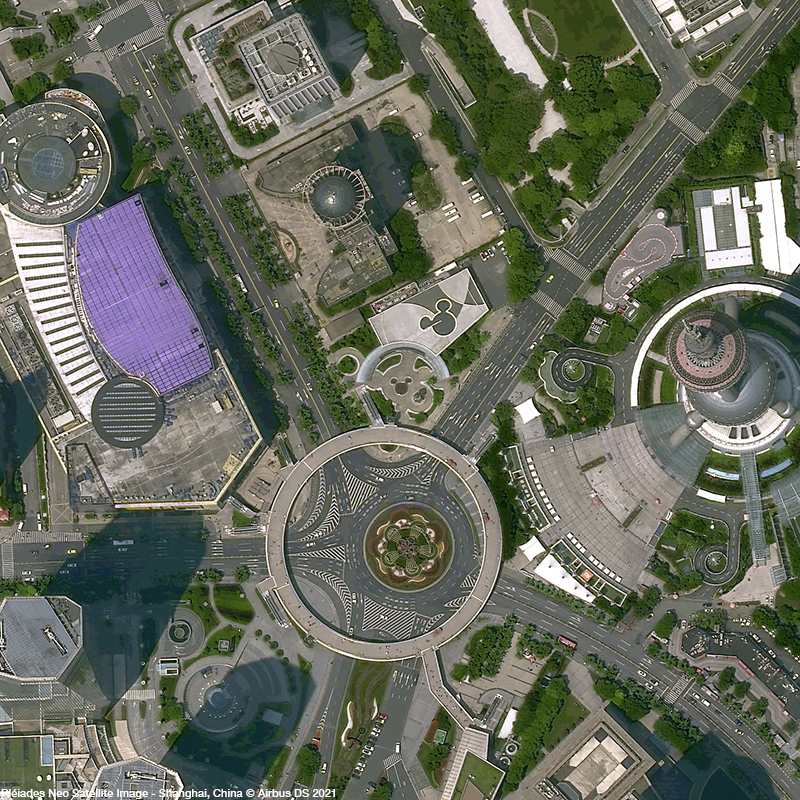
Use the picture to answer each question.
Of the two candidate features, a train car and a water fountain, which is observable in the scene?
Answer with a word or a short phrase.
water fountain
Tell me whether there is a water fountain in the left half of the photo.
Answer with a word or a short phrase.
Yes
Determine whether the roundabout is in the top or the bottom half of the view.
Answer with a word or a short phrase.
bottom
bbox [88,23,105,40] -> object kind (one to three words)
vehicle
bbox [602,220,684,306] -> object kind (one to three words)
race track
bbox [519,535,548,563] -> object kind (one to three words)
tent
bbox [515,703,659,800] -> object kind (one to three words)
building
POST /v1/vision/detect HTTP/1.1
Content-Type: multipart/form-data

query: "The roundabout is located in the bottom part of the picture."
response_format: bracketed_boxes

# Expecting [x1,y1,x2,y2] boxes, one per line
[284,444,484,644]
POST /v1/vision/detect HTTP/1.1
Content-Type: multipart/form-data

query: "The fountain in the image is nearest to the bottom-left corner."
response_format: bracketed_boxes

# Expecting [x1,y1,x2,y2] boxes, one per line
[157,607,207,657]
